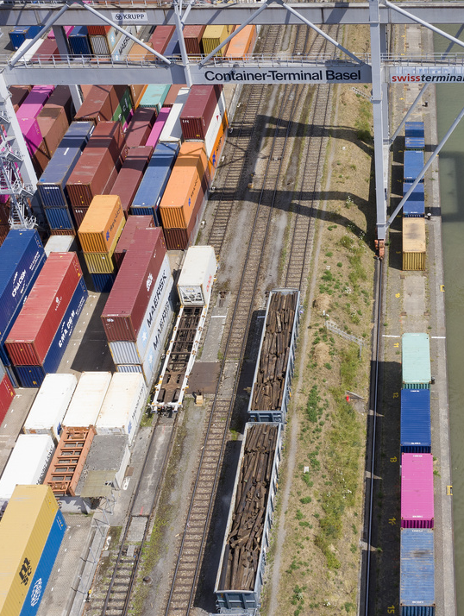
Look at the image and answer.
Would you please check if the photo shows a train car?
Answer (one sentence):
Yes, the photo shows a train car.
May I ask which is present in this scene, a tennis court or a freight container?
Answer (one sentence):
Visible in the photo is a freight container.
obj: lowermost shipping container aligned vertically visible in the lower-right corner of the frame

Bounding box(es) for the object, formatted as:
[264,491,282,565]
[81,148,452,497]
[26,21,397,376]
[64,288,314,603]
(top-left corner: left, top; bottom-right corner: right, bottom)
[399,528,436,615]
